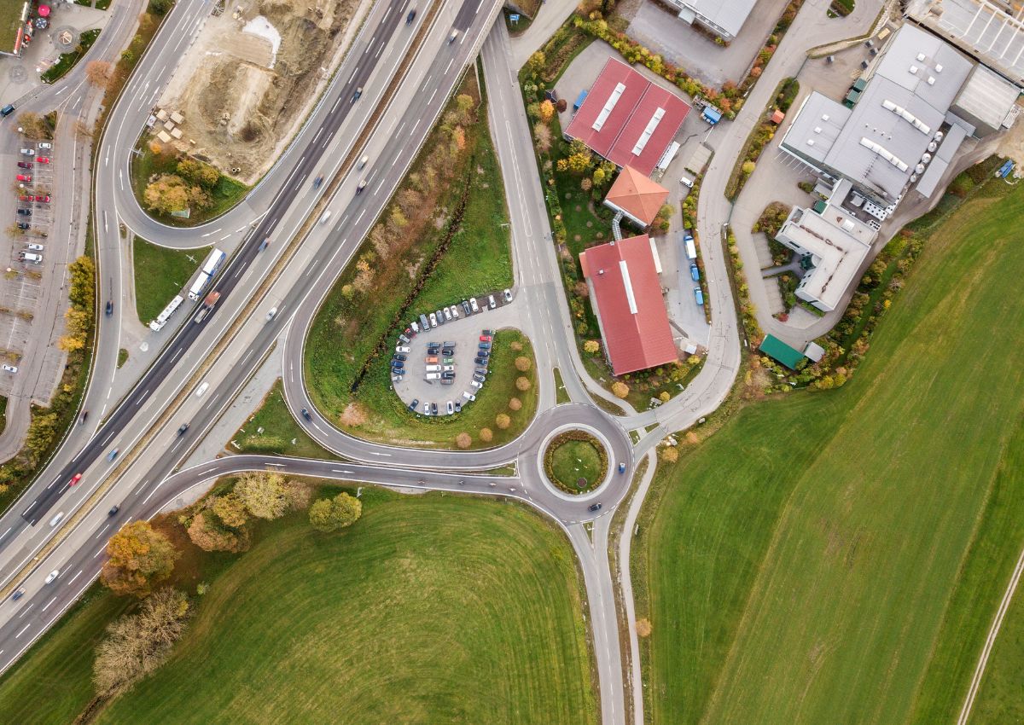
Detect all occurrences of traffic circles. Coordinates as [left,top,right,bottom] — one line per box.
[517,403,635,521]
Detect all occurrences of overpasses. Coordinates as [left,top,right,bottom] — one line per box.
[463,0,508,74]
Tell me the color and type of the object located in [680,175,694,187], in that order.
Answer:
white vehicle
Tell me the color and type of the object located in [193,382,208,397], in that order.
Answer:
white vehicle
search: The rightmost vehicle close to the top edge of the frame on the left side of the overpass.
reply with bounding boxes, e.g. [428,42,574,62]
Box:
[446,26,459,43]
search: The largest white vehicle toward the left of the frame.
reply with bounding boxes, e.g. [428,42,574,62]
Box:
[183,245,222,298]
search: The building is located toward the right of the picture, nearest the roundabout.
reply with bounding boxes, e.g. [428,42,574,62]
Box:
[579,234,678,376]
